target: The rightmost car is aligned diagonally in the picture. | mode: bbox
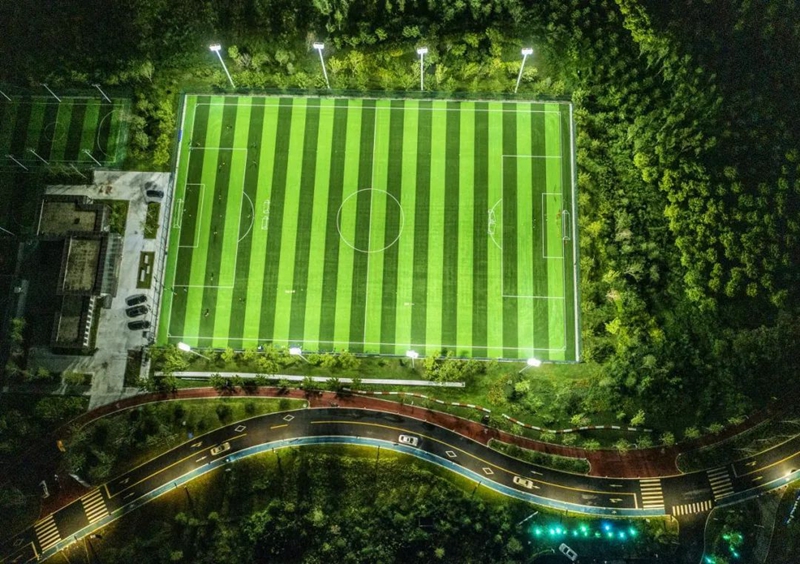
[559,543,579,561]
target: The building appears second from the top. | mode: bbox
[56,234,121,312]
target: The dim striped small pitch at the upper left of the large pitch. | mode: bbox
[0,94,134,170]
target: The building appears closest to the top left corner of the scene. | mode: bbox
[34,195,109,243]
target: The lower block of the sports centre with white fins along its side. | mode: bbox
[51,298,97,350]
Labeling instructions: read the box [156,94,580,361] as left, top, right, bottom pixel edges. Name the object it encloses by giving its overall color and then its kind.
green soccer field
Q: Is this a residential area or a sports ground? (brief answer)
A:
sports ground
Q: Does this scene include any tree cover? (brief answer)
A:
Yes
